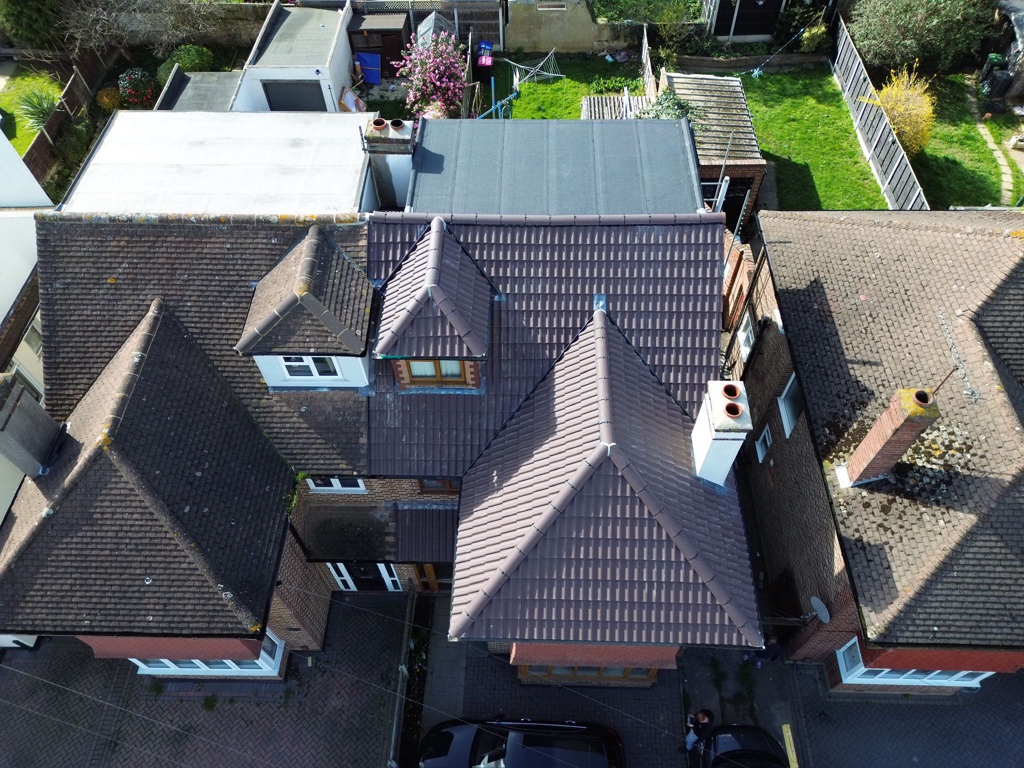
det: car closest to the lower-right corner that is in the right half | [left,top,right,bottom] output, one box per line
[696,723,787,768]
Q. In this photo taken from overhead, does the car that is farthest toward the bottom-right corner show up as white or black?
black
